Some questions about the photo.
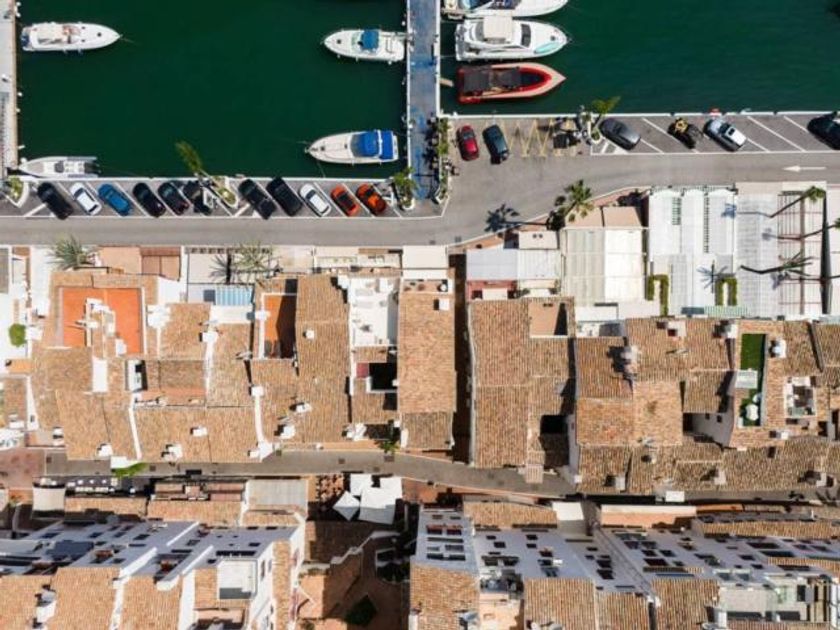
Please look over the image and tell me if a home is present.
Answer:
Yes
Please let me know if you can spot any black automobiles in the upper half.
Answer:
Yes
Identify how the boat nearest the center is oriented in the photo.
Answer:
from side to side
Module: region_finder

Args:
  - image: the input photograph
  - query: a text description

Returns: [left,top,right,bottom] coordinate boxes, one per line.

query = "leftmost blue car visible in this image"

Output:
[101,184,133,217]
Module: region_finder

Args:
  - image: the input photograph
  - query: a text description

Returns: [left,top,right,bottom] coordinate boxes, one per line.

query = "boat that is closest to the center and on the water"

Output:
[303,130,402,168]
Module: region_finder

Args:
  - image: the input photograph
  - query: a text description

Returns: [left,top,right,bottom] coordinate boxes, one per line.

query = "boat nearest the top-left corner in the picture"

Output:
[24,21,122,56]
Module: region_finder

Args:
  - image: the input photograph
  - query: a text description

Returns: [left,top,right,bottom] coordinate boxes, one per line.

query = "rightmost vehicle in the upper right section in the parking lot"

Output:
[809,116,840,147]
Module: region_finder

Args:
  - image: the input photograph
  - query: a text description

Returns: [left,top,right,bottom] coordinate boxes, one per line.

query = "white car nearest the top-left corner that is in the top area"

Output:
[73,185,102,215]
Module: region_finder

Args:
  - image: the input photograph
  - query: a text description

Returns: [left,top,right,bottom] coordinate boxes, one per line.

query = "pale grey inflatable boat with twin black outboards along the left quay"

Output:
[21,156,102,177]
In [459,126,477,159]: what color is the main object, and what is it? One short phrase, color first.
red car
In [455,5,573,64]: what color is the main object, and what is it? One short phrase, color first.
white boat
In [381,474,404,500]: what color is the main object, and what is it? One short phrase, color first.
white umbrella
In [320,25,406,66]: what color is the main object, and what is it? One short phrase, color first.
white boat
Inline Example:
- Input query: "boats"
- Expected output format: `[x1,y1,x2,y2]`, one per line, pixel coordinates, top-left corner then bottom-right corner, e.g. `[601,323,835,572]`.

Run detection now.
[320,25,406,66]
[24,21,122,56]
[303,130,402,168]
[455,5,573,64]
[441,0,564,18]
[21,156,102,177]
[458,65,566,100]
